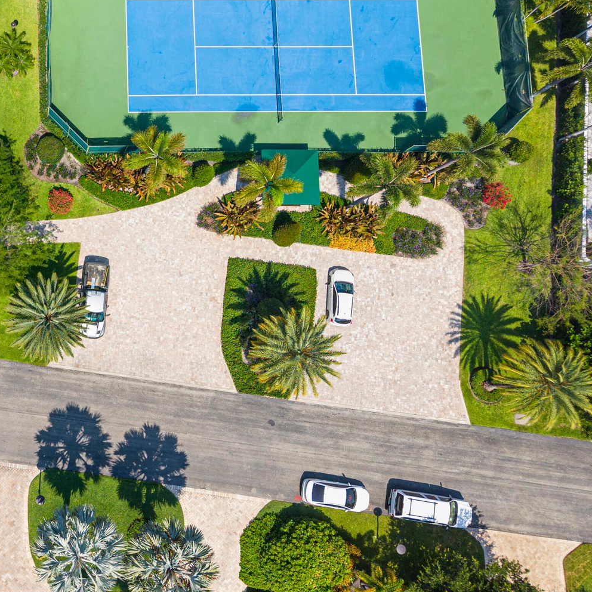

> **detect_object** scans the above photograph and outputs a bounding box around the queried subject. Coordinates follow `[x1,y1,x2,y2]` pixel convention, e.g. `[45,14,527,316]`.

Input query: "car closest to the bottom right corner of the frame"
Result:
[389,489,469,527]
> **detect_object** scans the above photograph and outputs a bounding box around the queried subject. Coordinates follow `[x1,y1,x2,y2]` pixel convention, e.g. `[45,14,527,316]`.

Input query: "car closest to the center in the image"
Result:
[326,267,357,326]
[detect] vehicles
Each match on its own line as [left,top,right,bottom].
[326,267,357,326]
[79,259,109,337]
[301,479,367,514]
[389,489,469,527]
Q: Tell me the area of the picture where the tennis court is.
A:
top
